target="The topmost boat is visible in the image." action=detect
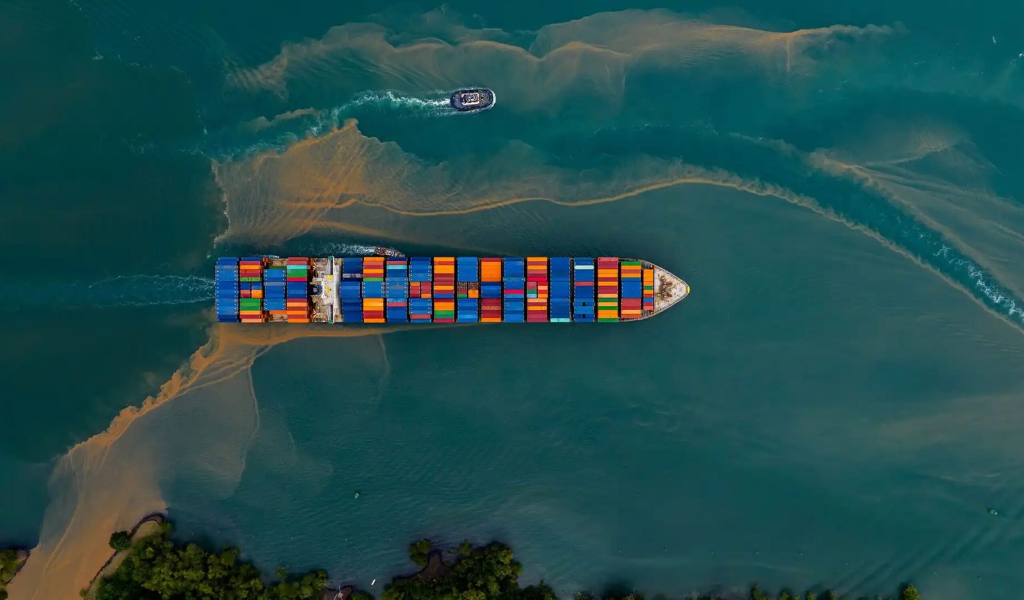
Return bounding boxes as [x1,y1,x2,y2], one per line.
[450,89,495,112]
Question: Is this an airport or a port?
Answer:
port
